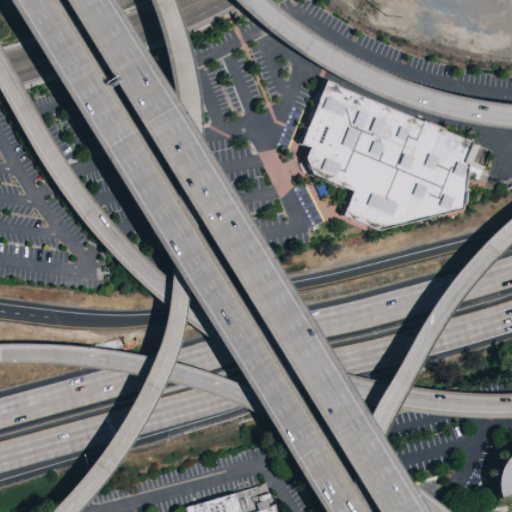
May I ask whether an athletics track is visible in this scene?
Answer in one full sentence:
No, no athletics track is visible in the scene.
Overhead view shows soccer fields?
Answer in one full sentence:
No, this view has no soccer field in it.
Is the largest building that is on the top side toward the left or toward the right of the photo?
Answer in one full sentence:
It is on the right.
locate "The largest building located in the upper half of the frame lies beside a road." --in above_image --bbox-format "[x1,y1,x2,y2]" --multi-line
[303,81,472,228]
